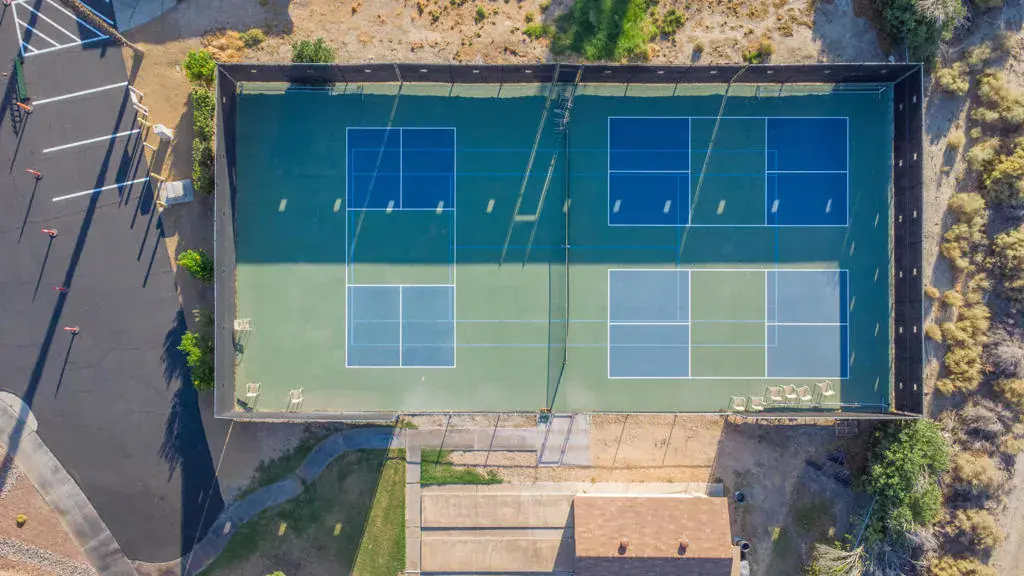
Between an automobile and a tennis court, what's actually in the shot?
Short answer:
tennis court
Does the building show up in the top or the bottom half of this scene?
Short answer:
bottom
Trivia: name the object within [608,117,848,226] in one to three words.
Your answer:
sports court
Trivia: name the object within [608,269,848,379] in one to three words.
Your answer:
sports court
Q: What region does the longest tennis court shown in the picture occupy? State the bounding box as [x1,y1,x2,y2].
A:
[234,82,894,412]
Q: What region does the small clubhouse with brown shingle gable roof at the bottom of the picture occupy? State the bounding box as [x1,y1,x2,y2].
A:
[573,495,741,576]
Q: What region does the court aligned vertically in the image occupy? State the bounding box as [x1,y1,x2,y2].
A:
[347,127,456,368]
